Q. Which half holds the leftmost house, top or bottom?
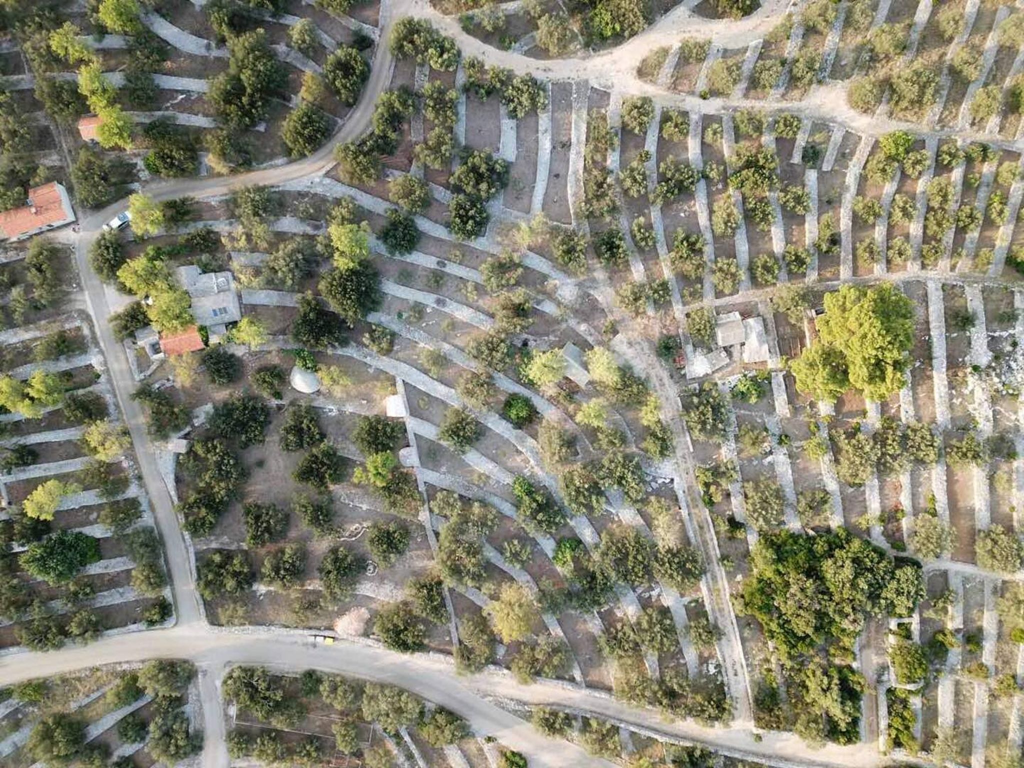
top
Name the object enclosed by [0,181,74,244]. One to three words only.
house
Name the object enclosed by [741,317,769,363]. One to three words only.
shed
